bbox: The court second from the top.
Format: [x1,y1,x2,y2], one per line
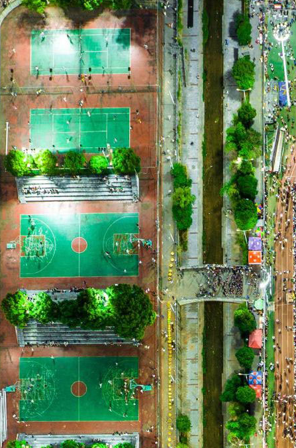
[30,102,130,152]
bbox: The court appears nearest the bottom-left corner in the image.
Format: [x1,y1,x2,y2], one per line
[19,356,138,421]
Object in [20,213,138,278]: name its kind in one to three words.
basketball court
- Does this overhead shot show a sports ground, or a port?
sports ground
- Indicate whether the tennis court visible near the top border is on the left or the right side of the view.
left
